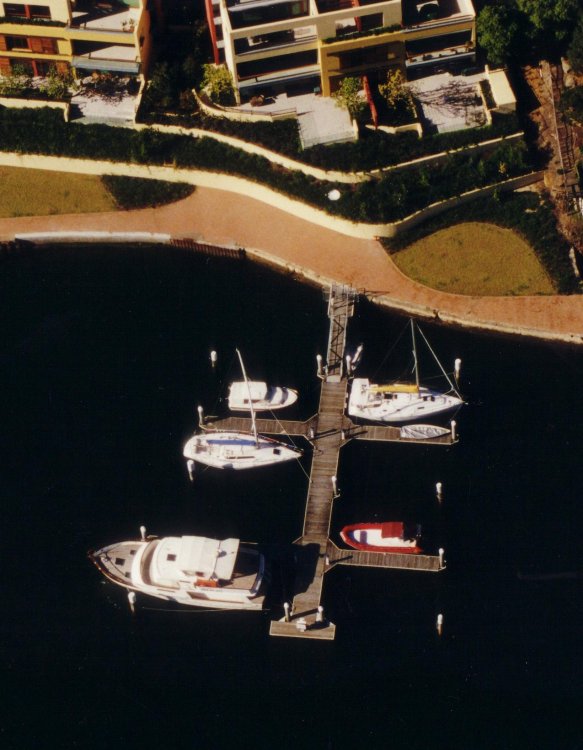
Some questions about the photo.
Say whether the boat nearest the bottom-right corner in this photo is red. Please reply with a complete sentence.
Yes, the boat nearest the bottom-right corner appears red.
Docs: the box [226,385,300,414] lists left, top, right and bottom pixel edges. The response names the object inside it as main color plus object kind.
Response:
white boat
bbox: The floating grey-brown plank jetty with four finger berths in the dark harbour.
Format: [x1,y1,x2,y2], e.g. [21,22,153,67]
[157,375,455,640]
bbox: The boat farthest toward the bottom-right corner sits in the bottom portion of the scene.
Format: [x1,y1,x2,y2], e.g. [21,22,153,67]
[339,520,430,553]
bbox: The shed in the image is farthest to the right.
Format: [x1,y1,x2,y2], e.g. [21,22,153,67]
[485,70,516,125]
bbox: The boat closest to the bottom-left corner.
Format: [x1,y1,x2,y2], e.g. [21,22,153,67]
[87,528,270,606]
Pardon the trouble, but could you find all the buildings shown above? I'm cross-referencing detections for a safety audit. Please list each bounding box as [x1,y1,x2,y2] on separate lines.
[199,0,478,111]
[0,0,169,91]
[485,70,516,125]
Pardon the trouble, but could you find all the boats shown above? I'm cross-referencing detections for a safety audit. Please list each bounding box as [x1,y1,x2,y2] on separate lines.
[339,520,430,553]
[226,385,300,414]
[350,320,466,423]
[398,426,450,439]
[186,354,305,476]
[87,528,270,606]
